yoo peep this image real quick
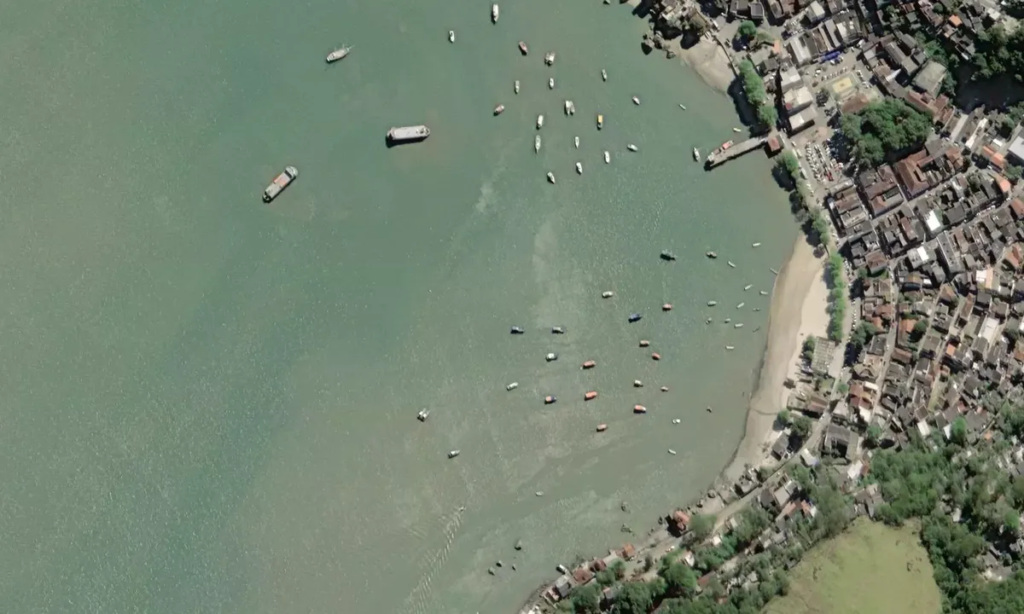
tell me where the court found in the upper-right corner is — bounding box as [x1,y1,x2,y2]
[825,71,859,98]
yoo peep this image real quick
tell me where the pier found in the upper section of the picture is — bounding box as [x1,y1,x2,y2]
[710,135,768,169]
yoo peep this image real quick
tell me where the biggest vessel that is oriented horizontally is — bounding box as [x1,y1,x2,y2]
[387,127,429,141]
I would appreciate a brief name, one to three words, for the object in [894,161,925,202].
building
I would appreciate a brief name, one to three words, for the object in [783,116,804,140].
building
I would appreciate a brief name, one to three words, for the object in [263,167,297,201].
ship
